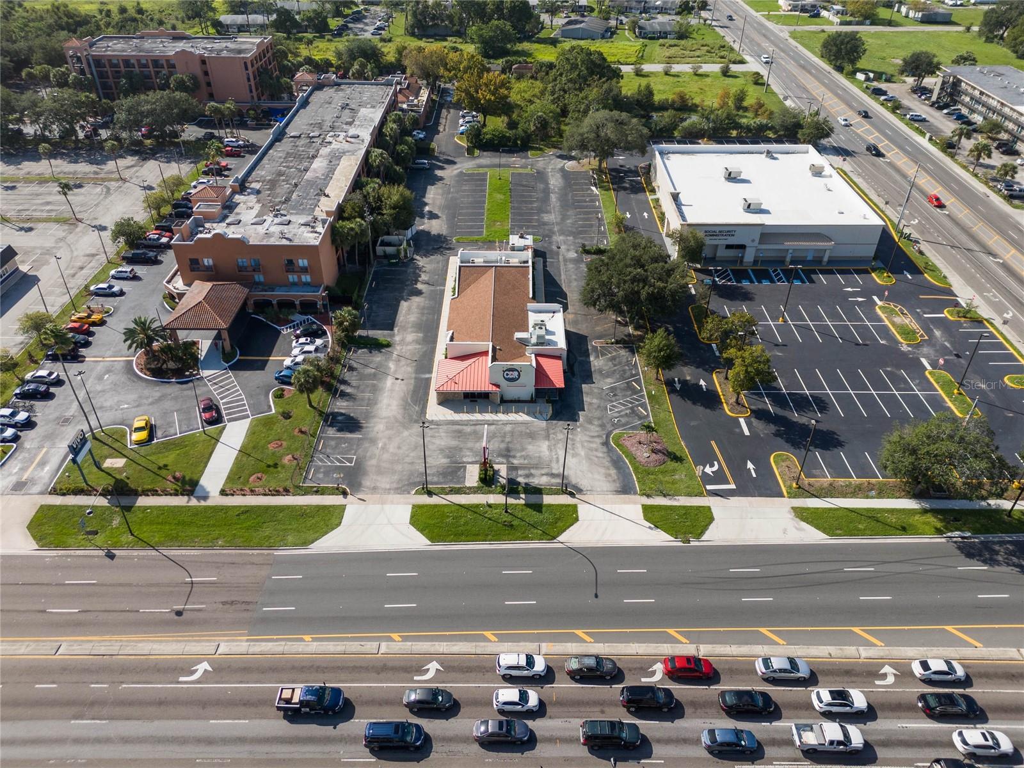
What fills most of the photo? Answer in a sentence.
Most of the picture is covered by paved ground.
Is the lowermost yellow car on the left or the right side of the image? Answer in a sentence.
The lowermost yellow car sits on the left side.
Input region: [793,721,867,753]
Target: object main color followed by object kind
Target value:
white truck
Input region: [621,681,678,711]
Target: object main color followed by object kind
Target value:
black car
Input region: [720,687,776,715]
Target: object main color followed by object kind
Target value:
black car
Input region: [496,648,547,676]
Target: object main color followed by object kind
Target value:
white car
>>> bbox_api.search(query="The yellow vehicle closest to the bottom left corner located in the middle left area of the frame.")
[128,414,153,441]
